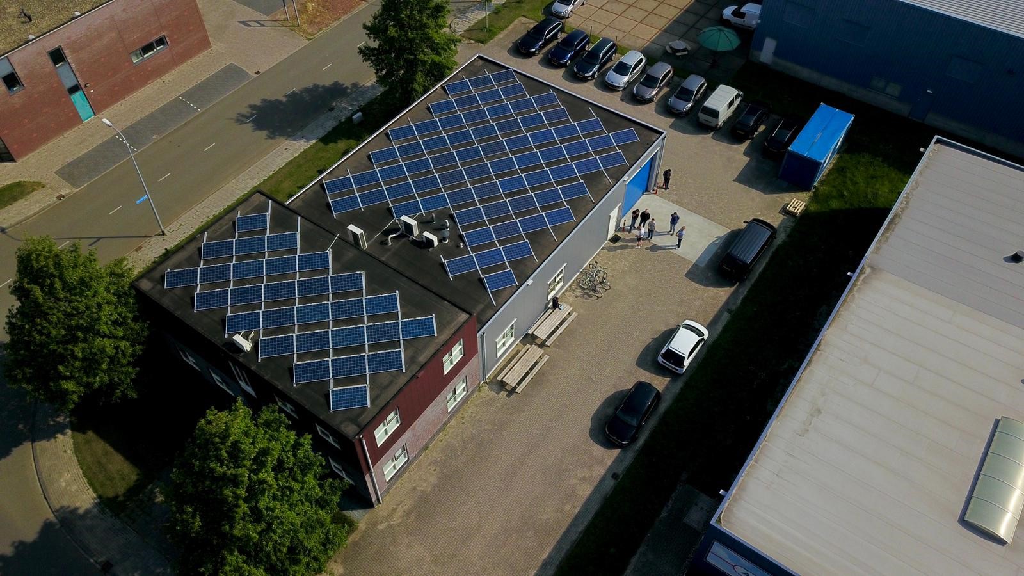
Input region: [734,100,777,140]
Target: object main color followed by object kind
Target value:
black car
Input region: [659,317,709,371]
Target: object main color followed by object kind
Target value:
white car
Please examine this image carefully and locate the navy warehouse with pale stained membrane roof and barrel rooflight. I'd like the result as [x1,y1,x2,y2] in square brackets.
[688,134,1024,576]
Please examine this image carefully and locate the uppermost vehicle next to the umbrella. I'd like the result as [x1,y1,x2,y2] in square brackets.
[719,0,765,31]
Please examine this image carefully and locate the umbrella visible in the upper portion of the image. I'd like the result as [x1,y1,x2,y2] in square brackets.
[694,28,737,67]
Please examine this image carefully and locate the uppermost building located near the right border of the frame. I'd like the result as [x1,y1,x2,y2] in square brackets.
[750,0,1024,158]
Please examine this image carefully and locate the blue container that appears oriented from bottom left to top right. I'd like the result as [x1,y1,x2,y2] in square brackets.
[778,104,853,190]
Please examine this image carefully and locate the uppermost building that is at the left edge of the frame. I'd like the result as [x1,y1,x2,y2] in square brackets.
[0,0,212,168]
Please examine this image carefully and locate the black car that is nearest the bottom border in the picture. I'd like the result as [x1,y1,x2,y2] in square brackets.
[603,376,665,447]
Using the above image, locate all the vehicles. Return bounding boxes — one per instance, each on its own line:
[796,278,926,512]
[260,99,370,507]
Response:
[667,77,709,118]
[697,80,744,128]
[734,100,777,140]
[719,0,765,31]
[605,51,647,90]
[573,39,618,81]
[767,111,810,158]
[659,317,709,371]
[546,29,589,68]
[516,17,561,57]
[552,0,587,18]
[603,376,665,447]
[719,215,779,277]
[632,60,674,103]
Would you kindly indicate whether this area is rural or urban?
urban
